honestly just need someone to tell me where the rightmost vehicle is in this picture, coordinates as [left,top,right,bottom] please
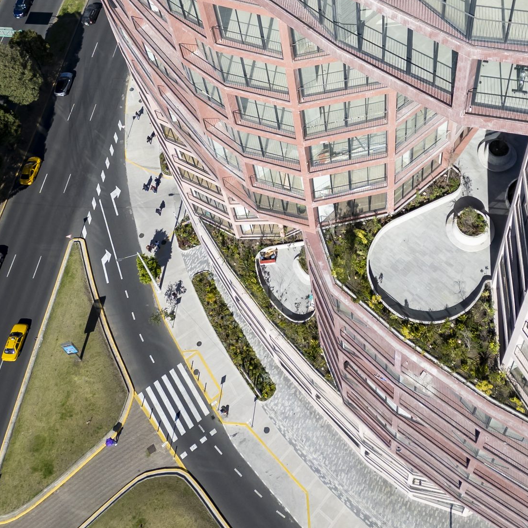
[79,2,99,22]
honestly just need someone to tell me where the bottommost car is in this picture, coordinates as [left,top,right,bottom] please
[0,323,30,362]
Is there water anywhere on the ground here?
No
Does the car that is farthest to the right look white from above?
No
